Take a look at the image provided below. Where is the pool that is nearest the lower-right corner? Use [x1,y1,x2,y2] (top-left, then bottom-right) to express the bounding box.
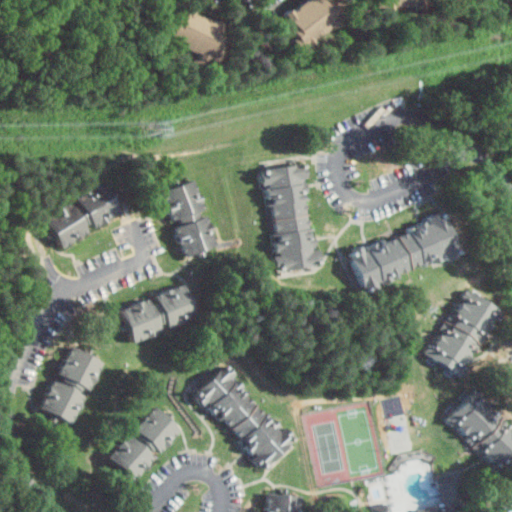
[384,460,441,512]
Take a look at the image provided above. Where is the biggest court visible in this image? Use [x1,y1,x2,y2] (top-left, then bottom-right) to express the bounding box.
[302,402,385,487]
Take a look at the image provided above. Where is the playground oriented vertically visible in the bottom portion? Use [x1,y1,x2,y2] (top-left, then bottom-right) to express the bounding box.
[382,398,413,456]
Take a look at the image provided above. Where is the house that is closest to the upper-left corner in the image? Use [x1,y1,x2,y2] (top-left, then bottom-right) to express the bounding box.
[173,12,224,58]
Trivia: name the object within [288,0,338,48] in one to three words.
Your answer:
house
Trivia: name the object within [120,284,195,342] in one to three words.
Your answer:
building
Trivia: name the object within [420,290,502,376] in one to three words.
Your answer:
building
